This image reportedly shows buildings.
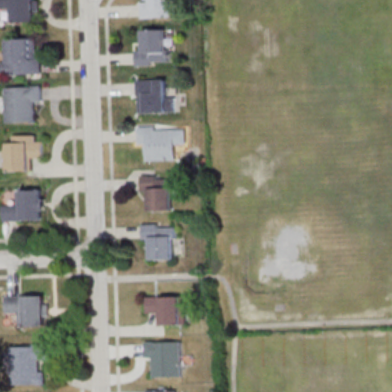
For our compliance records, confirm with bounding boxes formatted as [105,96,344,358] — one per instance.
[0,190,42,221]
[138,0,170,19]
[141,224,176,261]
[3,86,42,122]
[1,134,44,172]
[136,126,186,162]
[134,29,170,65]
[0,38,40,74]
[0,0,37,20]
[144,296,184,325]
[136,79,176,112]
[140,176,172,210]
[144,341,184,378]
[9,347,42,386]
[3,296,46,326]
